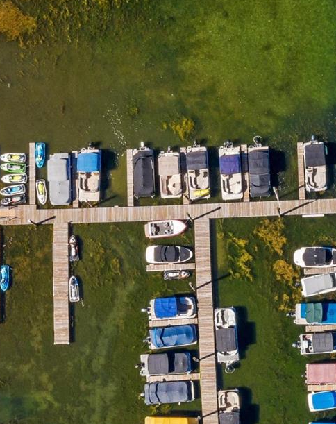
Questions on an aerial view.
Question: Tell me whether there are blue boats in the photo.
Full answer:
Yes, the frame does contain a blue boat.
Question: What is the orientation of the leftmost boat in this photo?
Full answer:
The leftmost boat runs from top to bottom in the image.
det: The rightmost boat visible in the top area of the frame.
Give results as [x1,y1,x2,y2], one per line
[302,134,328,194]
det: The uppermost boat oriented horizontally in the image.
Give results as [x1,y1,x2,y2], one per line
[145,220,193,239]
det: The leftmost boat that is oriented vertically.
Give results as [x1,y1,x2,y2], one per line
[47,146,74,209]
